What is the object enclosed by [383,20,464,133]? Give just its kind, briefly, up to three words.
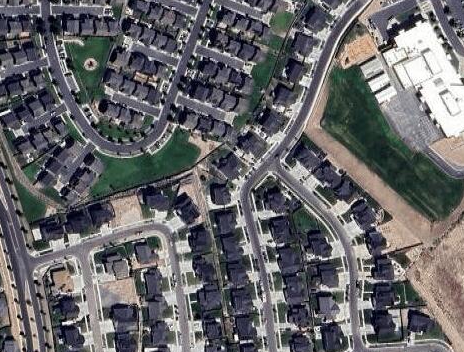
building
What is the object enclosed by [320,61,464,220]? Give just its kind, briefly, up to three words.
sports field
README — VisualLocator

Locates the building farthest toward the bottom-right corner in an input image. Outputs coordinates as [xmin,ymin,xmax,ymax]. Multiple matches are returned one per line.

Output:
[407,312,432,333]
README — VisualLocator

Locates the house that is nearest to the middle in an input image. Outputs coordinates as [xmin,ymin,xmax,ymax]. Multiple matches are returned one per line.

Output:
[219,155,242,182]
